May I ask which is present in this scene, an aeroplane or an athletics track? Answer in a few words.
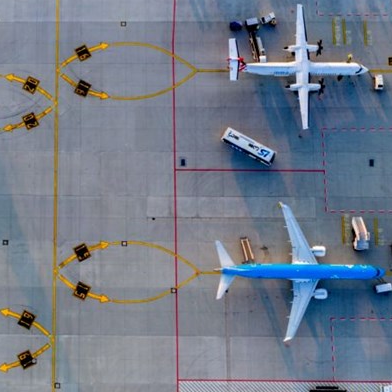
aeroplane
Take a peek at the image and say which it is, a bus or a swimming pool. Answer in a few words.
bus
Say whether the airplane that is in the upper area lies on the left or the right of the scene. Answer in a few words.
right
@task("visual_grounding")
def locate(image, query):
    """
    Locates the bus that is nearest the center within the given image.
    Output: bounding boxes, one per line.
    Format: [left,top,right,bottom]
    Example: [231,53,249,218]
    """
[221,127,276,164]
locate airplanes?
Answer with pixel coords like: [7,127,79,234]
[214,201,384,341]
[227,7,368,130]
